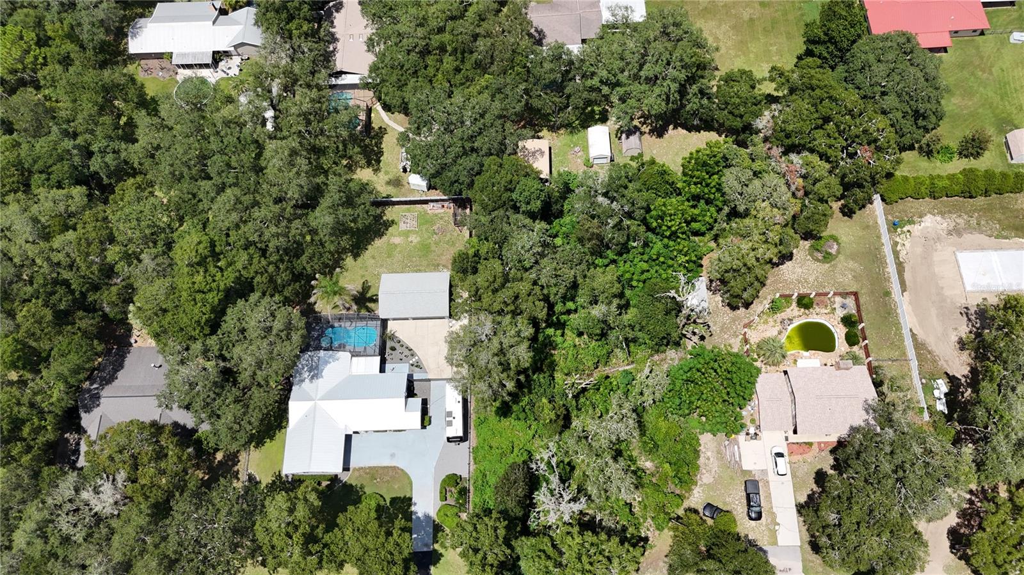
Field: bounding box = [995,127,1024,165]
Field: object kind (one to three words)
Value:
shed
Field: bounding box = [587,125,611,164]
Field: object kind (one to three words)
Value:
shed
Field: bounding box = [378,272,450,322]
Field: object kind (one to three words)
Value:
building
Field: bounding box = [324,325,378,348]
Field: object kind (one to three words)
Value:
swimming pool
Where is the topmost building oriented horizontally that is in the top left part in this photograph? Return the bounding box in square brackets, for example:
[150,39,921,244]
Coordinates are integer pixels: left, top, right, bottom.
[128,0,270,71]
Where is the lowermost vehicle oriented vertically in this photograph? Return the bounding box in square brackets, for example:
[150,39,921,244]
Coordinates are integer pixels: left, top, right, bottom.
[744,478,764,523]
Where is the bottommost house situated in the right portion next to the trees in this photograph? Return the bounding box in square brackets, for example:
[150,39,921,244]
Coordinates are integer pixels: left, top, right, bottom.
[752,358,880,439]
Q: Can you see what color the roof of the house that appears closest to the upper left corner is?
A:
white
